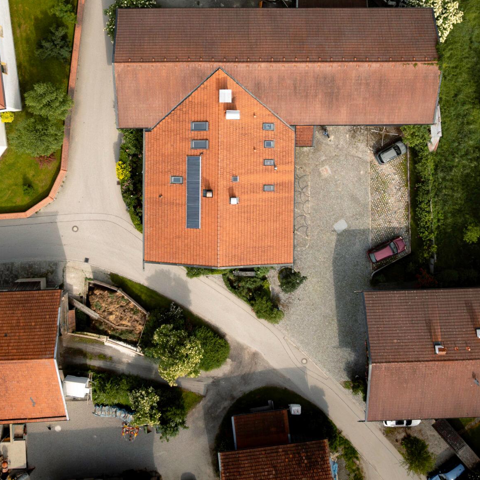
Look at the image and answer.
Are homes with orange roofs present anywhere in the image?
Yes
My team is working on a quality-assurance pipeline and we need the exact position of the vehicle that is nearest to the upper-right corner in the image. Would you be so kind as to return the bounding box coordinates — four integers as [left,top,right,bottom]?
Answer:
[371,139,410,167]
